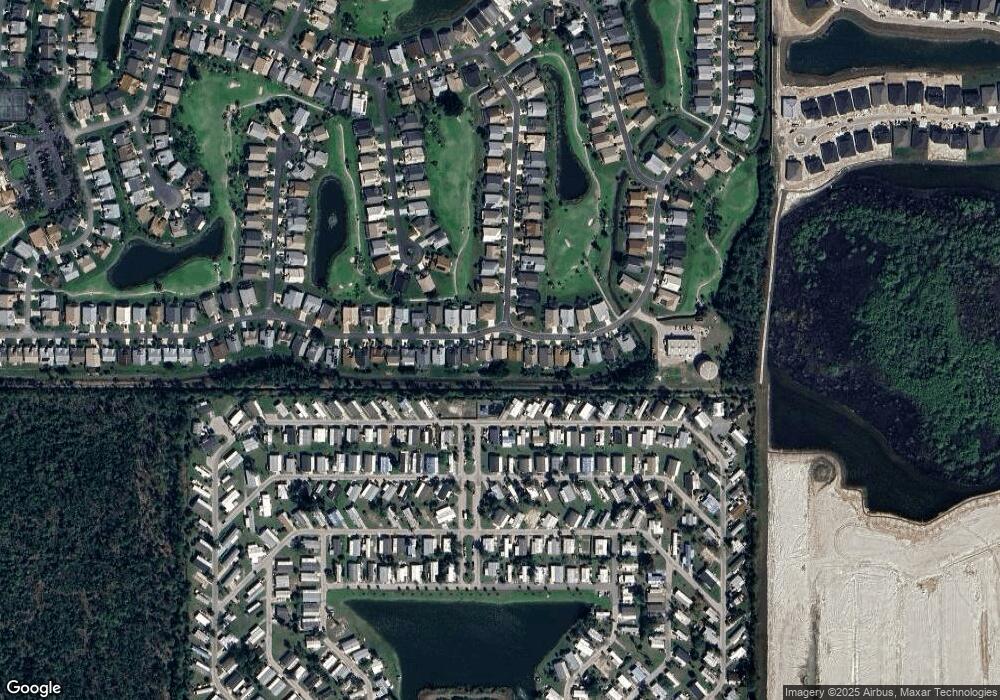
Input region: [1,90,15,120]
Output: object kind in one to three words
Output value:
tennis court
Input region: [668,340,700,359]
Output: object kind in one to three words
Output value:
building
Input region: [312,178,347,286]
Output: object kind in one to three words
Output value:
pond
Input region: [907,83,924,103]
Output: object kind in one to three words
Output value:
house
